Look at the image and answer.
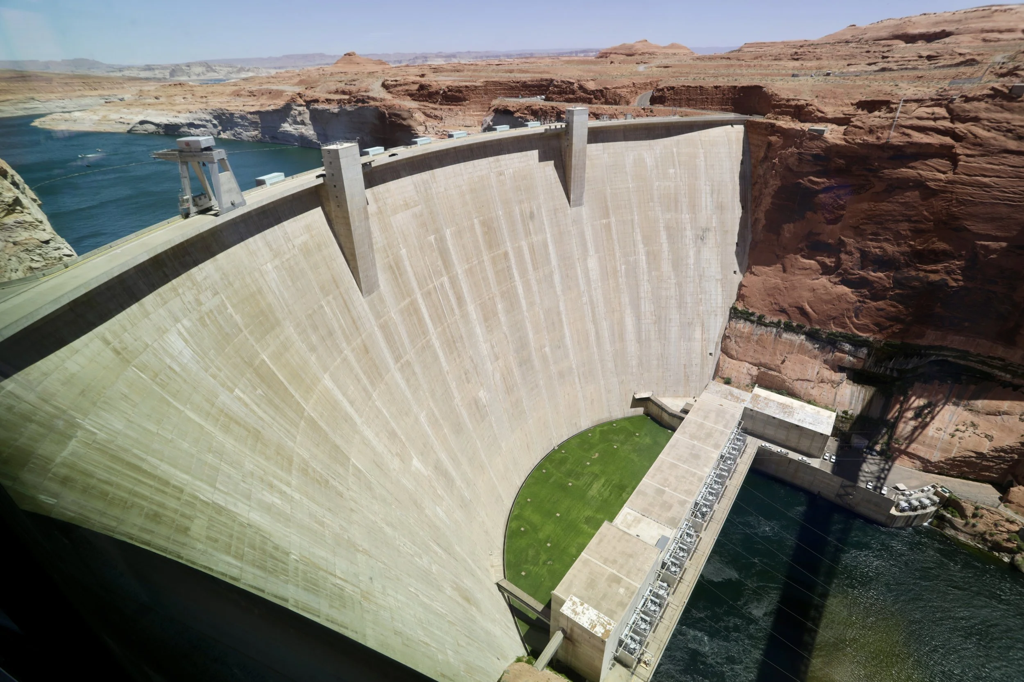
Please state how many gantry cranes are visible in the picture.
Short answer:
one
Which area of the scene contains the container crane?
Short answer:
top left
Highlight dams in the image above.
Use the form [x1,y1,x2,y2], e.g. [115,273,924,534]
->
[0,114,761,682]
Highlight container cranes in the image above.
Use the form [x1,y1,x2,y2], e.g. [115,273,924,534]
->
[141,131,249,218]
